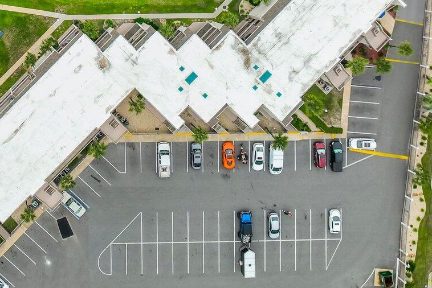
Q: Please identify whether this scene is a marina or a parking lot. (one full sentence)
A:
This image shows a parking lot.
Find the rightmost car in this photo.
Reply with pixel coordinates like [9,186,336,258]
[348,137,376,151]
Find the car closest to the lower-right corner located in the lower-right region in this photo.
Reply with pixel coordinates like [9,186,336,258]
[327,207,342,233]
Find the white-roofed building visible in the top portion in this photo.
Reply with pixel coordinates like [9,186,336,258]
[0,0,406,223]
